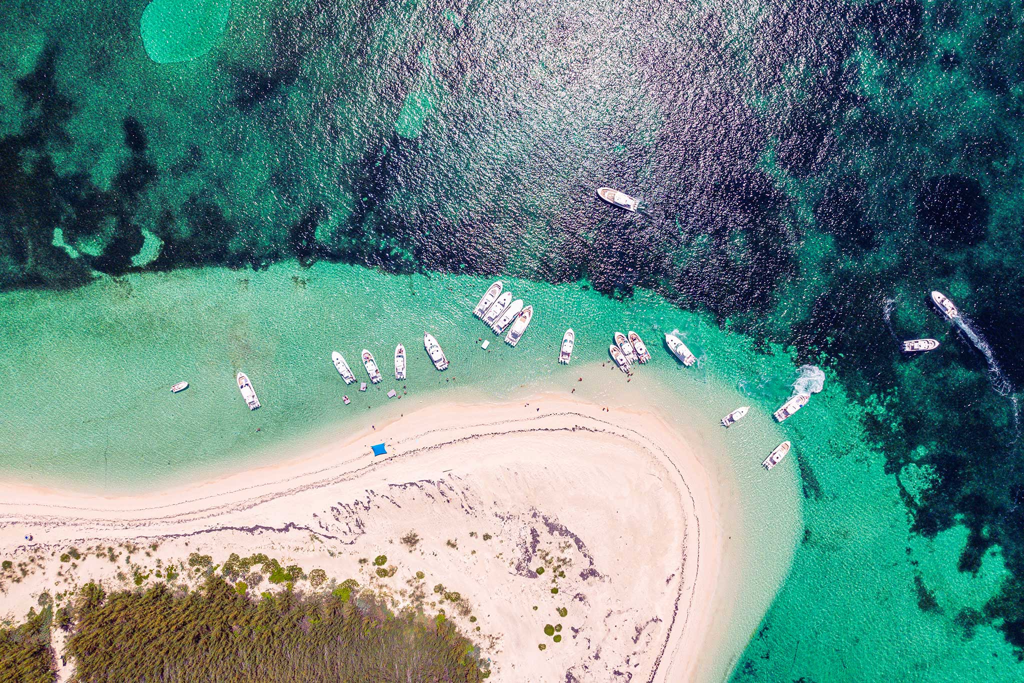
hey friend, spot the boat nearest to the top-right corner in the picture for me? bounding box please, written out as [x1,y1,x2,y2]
[931,291,958,321]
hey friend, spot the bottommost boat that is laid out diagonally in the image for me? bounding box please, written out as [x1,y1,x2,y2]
[760,441,790,471]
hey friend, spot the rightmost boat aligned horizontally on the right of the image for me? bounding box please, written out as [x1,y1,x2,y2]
[899,339,939,352]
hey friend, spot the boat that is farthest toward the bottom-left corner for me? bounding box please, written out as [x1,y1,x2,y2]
[172,381,188,393]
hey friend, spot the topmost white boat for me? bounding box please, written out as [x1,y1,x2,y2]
[597,188,641,214]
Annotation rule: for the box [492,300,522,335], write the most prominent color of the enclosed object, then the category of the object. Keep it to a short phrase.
white boat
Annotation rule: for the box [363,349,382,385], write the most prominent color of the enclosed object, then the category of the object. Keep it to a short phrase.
white boat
